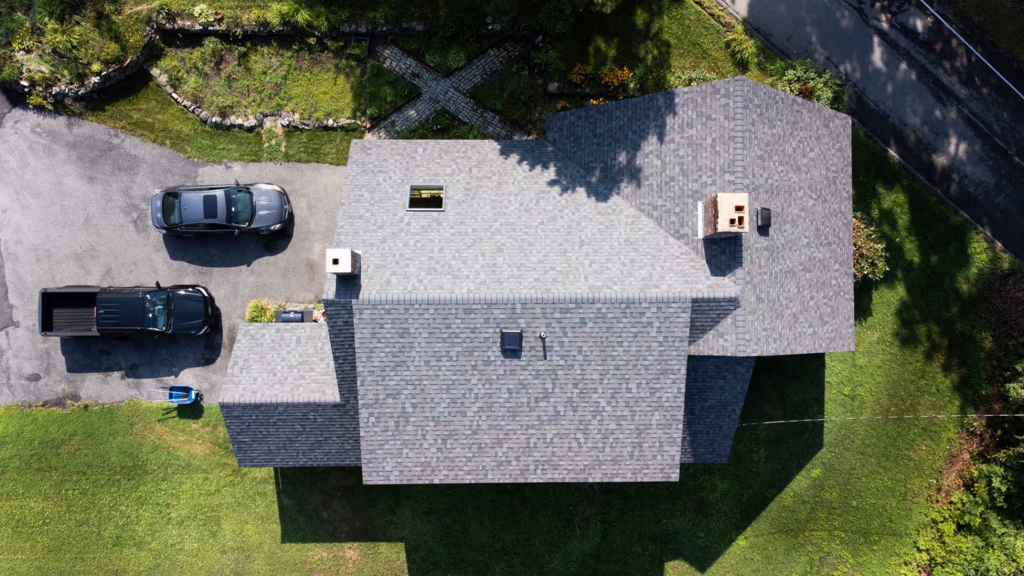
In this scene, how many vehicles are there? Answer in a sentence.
The number of vehicles here is 2.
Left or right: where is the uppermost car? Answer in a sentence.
The uppermost car sits on the left side.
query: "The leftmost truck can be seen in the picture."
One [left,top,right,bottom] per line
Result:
[38,280,216,344]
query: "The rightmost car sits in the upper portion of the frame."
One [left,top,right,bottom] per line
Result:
[151,177,294,241]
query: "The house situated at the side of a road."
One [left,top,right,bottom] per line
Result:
[218,78,855,484]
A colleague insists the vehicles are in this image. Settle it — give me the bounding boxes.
[38,280,216,344]
[151,177,294,241]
